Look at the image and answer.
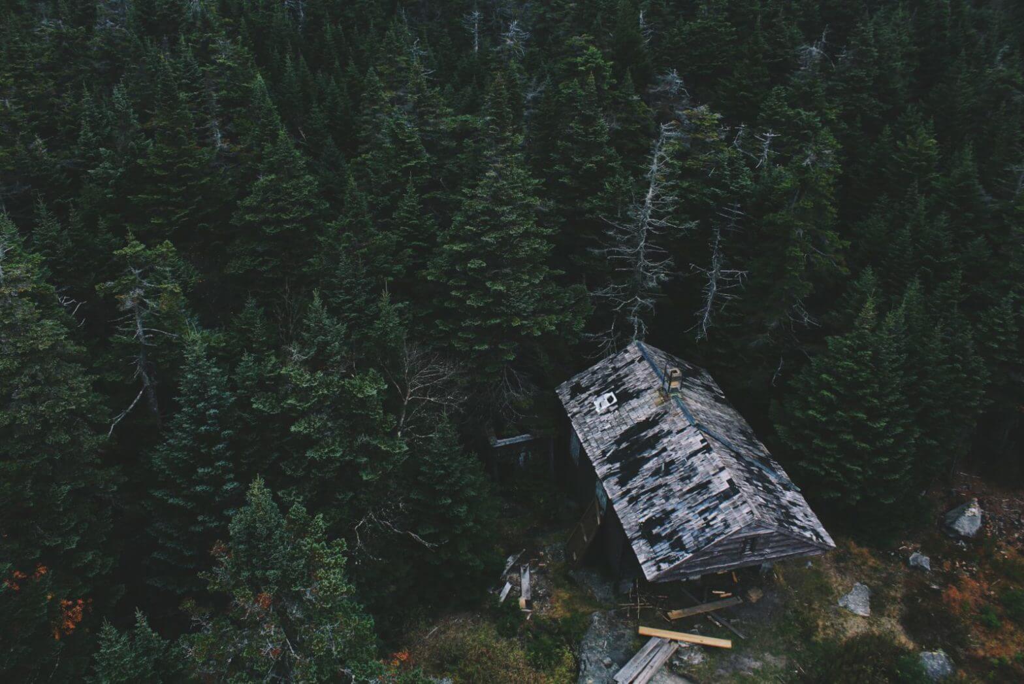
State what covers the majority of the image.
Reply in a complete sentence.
For the most part, this view shows trees.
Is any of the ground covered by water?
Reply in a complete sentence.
No, water can't be seen anywhere here.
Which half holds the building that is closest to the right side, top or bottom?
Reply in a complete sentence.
The building that is closest to the right side sits in the bottom half of the picture.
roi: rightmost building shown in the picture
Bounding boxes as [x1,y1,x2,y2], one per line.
[557,341,839,619]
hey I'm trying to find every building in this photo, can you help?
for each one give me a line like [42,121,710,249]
[483,416,554,497]
[557,341,839,619]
